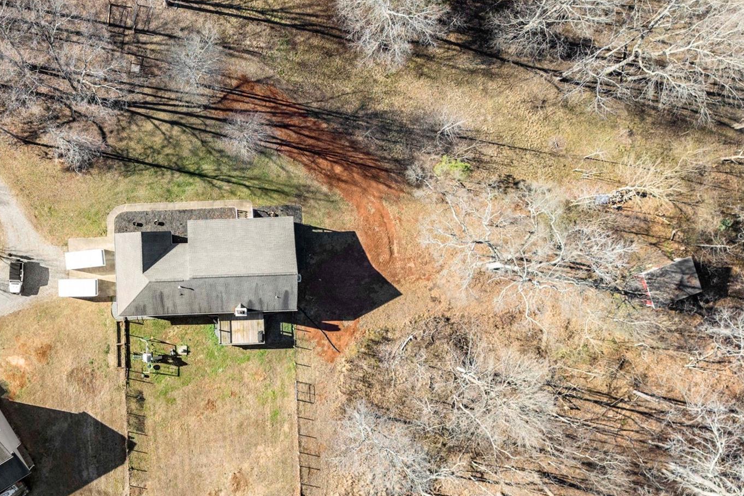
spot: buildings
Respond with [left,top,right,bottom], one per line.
[0,410,35,493]
[115,208,302,344]
[633,257,701,308]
